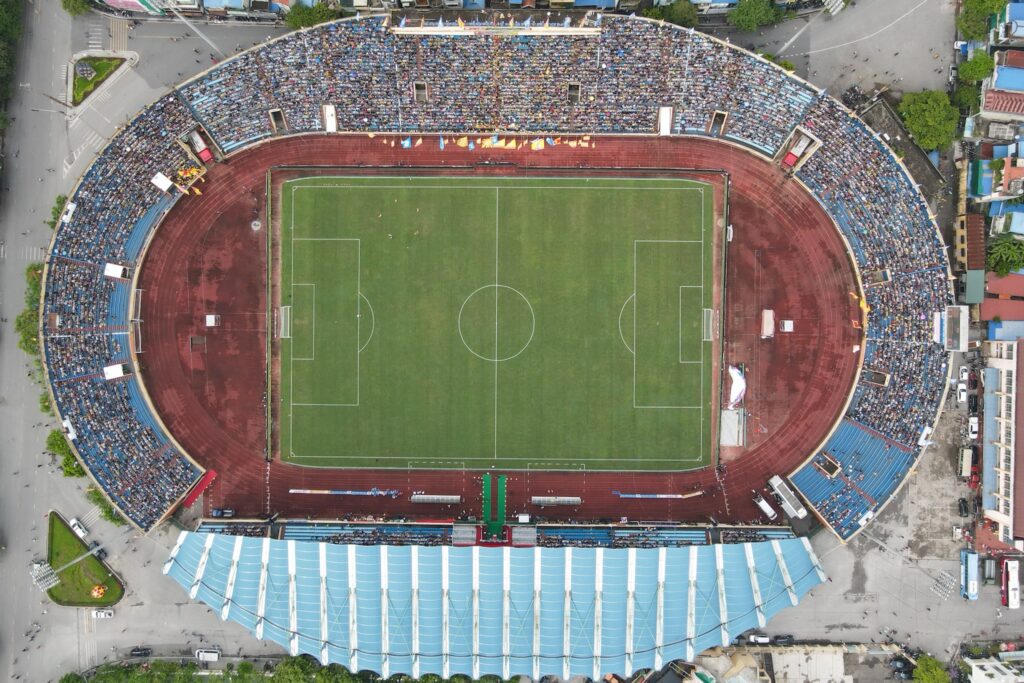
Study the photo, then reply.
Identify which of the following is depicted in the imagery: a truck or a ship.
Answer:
truck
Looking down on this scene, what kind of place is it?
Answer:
sports ground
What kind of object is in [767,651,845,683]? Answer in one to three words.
building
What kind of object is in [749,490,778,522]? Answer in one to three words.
truck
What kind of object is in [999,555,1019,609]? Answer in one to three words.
bus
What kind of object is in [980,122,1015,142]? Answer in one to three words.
shed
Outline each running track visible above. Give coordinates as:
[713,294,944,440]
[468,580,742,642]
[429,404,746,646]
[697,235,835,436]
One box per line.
[135,135,863,550]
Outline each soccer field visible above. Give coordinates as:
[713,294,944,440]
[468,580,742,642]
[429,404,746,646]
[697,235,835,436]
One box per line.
[271,172,723,504]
